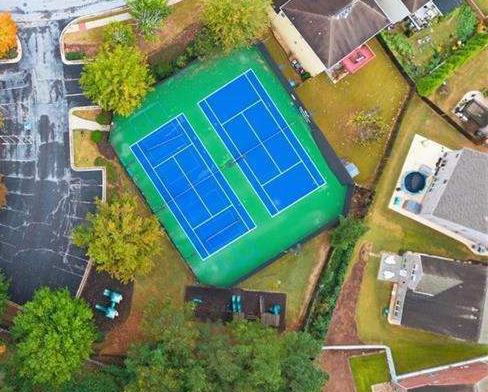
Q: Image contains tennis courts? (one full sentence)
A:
Yes, looking at the shot, I can spot a tennis court.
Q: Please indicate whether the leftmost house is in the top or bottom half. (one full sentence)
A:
Seen from above, the leftmost house lies in the top half of the view.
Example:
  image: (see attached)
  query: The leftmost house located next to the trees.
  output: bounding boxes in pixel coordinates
[266,0,391,73]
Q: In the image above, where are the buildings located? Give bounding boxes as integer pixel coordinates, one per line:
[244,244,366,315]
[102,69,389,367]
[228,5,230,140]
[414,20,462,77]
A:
[424,147,488,237]
[391,375,478,392]
[390,254,488,343]
[266,0,391,73]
